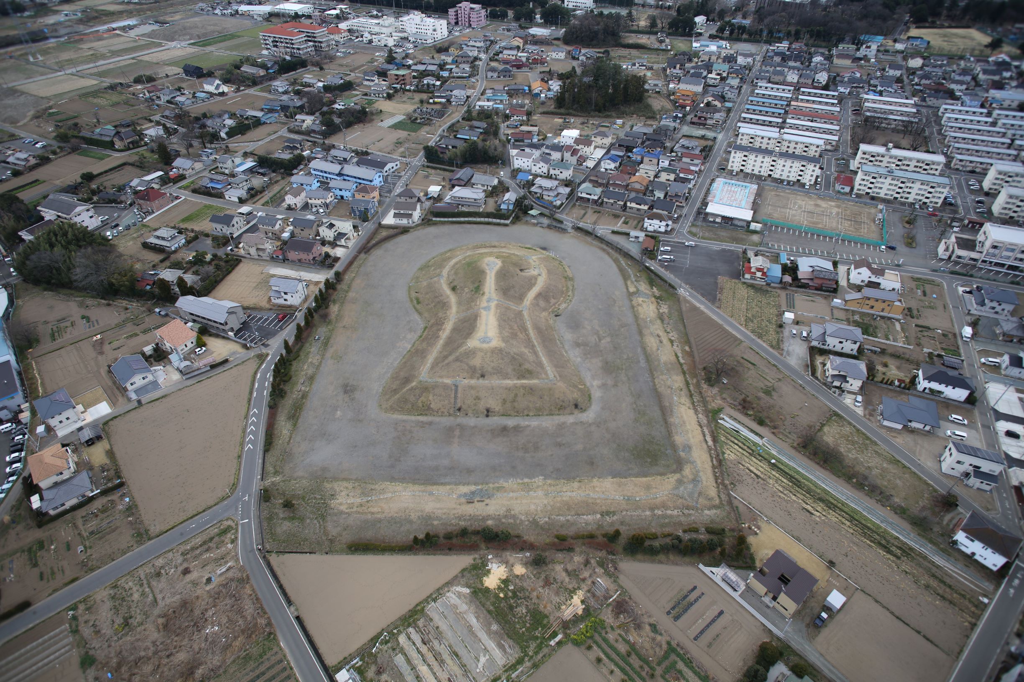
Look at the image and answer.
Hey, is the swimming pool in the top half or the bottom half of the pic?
top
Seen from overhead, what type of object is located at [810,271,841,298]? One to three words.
house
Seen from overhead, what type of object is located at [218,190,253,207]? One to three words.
house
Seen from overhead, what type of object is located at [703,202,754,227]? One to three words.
building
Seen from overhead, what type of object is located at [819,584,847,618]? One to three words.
shed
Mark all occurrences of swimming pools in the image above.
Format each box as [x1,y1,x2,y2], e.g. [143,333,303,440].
[714,180,750,208]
